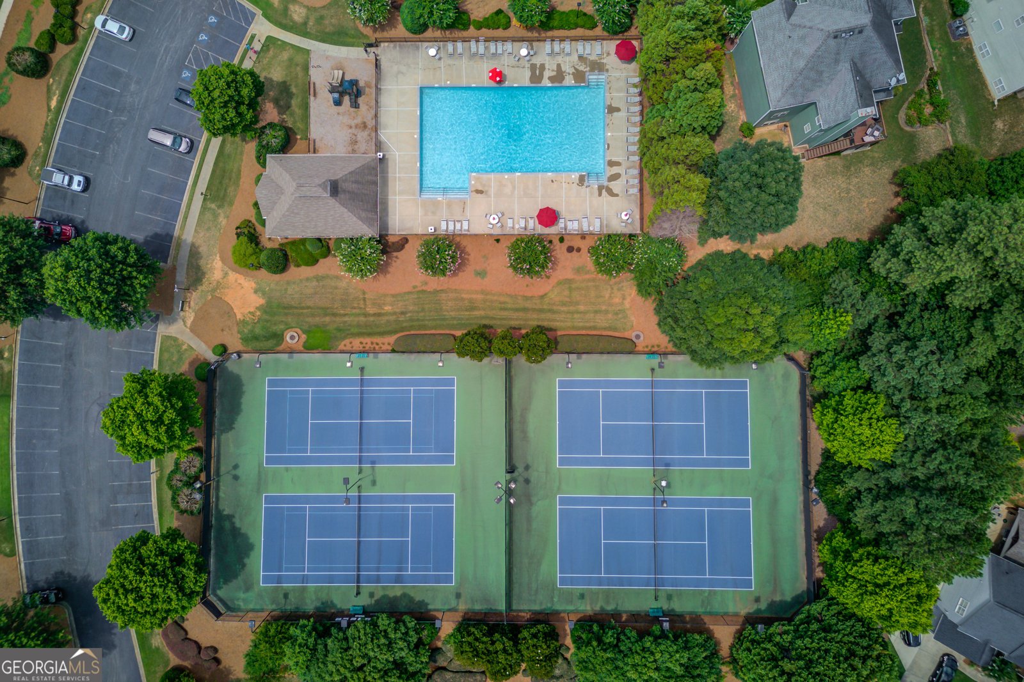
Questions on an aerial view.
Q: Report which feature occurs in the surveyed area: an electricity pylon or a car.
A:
car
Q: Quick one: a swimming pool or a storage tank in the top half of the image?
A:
swimming pool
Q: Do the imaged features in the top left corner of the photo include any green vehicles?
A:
No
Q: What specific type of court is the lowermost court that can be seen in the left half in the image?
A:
tennis court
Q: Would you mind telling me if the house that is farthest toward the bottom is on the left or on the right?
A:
right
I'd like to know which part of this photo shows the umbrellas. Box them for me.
[489,69,502,85]
[537,207,558,228]
[615,41,636,62]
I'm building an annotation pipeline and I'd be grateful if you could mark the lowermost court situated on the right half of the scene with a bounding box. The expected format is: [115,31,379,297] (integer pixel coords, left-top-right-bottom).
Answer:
[558,496,753,590]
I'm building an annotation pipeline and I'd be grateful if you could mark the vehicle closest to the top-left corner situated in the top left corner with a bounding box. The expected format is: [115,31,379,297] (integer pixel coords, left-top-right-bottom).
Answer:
[94,15,135,41]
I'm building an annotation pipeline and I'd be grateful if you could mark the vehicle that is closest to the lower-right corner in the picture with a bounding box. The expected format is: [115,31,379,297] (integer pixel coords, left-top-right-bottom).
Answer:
[925,650,956,682]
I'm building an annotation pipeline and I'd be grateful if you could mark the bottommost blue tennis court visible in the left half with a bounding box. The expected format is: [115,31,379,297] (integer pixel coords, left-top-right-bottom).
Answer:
[261,494,455,585]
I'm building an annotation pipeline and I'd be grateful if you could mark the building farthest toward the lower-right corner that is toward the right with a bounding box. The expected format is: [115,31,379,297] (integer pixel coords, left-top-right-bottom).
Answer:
[923,552,1024,678]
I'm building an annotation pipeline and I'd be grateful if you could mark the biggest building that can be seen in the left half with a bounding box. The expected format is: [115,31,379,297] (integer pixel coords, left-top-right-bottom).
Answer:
[255,154,380,238]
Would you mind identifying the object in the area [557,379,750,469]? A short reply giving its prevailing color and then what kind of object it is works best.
blue tennis court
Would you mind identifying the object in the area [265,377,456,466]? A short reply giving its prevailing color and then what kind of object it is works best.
blue tennis court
